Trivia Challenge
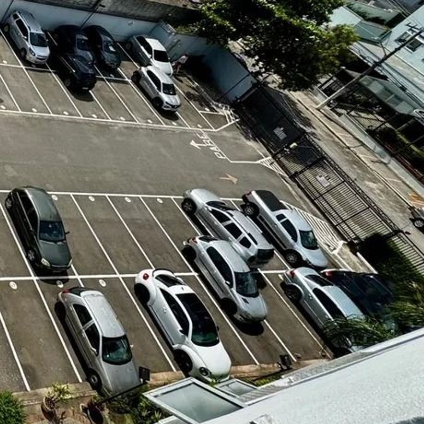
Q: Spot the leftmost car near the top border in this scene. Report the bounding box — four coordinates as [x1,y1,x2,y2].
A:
[6,14,50,61]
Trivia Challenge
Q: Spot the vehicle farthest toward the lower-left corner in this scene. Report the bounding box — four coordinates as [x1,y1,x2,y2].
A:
[56,290,138,399]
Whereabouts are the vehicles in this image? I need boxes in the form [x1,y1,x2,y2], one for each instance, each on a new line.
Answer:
[134,68,182,112]
[188,191,270,263]
[56,290,138,399]
[323,271,411,335]
[6,14,50,61]
[283,268,368,353]
[183,240,263,323]
[7,189,70,271]
[136,281,227,381]
[54,43,103,94]
[131,36,177,78]
[82,29,120,67]
[51,22,96,62]
[235,192,316,268]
